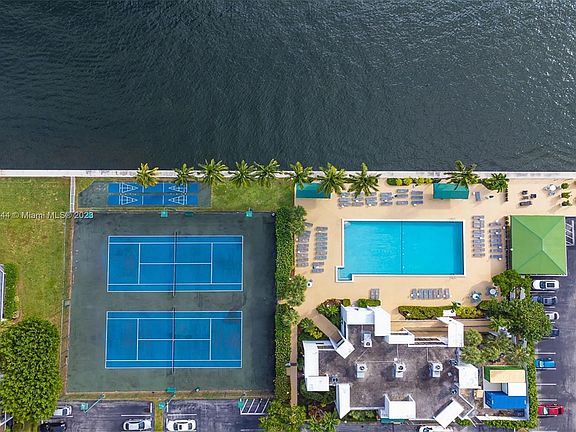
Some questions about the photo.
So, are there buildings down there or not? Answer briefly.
Yes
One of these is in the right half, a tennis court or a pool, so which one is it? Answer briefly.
pool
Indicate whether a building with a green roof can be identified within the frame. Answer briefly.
Yes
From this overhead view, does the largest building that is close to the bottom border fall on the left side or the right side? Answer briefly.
right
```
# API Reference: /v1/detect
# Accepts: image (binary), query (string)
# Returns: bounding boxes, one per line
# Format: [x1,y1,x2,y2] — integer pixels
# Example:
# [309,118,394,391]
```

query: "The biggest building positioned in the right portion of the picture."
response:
[303,303,478,428]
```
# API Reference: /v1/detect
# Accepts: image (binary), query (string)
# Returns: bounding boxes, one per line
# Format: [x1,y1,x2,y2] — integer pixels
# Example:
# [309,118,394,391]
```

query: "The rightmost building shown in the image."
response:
[503,214,567,276]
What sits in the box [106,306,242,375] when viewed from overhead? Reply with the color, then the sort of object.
blue tennis court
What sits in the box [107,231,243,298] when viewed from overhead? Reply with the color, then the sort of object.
blue tennis court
